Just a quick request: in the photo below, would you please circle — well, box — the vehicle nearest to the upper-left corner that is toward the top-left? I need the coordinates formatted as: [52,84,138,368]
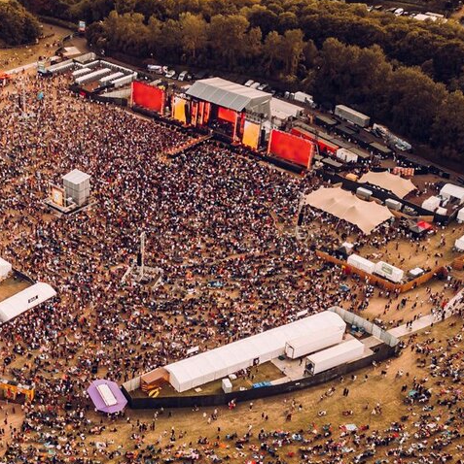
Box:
[76,16,91,35]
